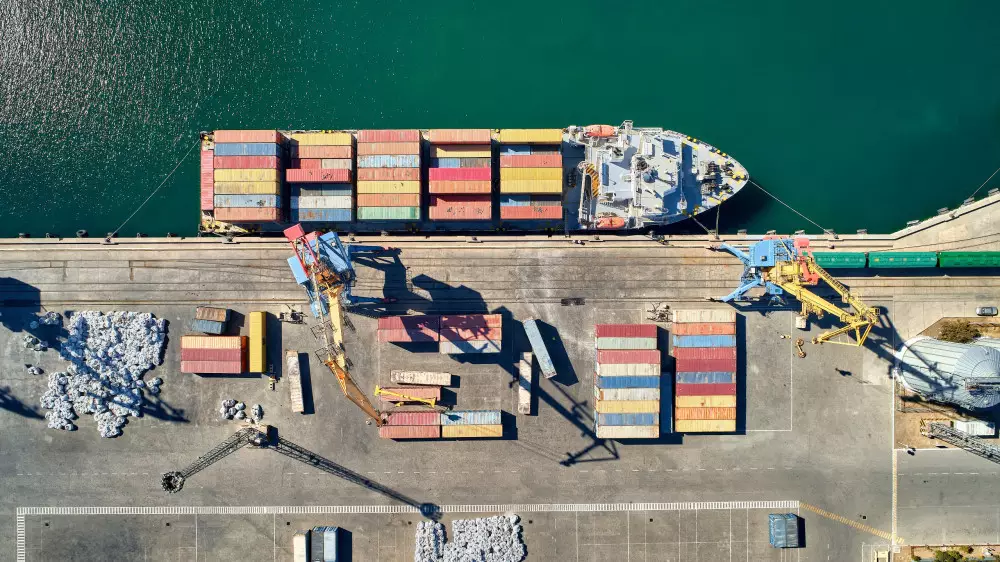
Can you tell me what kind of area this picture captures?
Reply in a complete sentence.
What you see here is a port.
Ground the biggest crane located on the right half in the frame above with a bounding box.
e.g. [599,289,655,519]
[706,233,897,355]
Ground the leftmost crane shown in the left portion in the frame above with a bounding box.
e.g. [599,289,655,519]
[284,221,405,429]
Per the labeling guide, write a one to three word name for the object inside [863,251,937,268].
rail car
